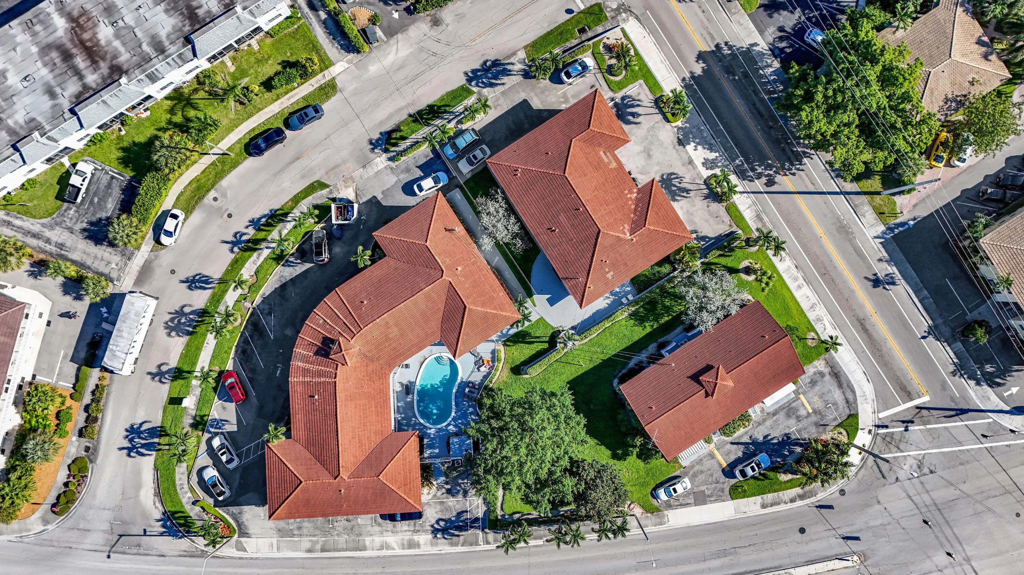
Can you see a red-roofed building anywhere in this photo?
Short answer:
Yes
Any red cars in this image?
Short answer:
Yes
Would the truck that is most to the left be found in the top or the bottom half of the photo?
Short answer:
top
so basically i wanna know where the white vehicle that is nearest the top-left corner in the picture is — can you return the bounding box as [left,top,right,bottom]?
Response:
[62,160,96,205]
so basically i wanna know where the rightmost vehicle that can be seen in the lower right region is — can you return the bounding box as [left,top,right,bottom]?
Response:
[732,451,771,482]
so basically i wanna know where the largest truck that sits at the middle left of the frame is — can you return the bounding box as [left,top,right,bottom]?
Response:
[98,288,160,380]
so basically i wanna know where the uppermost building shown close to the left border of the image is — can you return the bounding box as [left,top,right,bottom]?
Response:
[0,0,293,195]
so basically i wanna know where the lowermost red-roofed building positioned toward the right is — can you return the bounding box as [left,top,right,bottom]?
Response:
[620,300,805,461]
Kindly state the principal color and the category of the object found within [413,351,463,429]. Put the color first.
blue swimming pool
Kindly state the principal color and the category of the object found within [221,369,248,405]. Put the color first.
red car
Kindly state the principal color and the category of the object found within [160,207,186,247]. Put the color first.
white car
